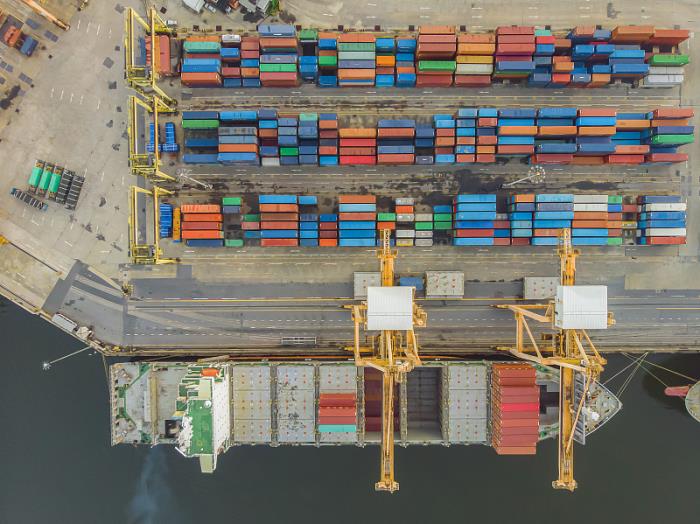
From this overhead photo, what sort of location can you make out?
port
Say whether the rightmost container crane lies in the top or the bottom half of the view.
bottom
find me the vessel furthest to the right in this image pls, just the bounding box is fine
[663,376,700,420]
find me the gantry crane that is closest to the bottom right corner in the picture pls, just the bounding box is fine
[492,227,607,493]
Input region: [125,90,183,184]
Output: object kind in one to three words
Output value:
container crane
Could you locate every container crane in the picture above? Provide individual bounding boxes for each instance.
[122,4,180,105]
[342,227,423,493]
[27,0,70,29]
[126,182,184,266]
[492,227,607,493]
[125,90,183,184]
